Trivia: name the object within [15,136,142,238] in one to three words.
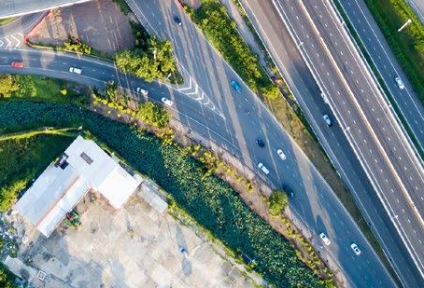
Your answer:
building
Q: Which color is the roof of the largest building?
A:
white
